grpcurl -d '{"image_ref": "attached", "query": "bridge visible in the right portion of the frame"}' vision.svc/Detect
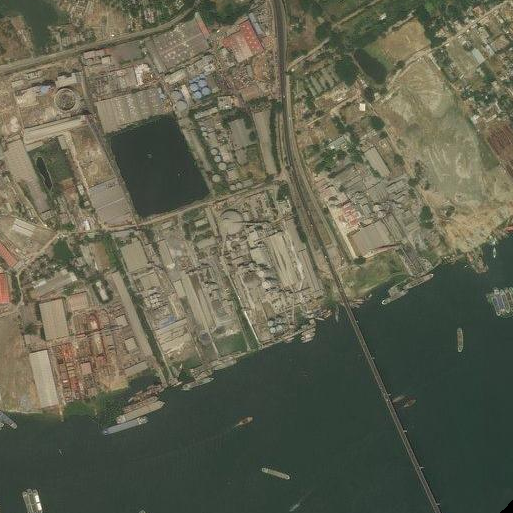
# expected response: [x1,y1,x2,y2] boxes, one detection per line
[338,287,441,513]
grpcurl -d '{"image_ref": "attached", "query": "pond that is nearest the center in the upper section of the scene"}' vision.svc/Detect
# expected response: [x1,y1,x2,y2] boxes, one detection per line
[109,115,209,216]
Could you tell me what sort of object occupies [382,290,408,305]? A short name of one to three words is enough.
ship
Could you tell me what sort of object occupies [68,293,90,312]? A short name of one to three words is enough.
building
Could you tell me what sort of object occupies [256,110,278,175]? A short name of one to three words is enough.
building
